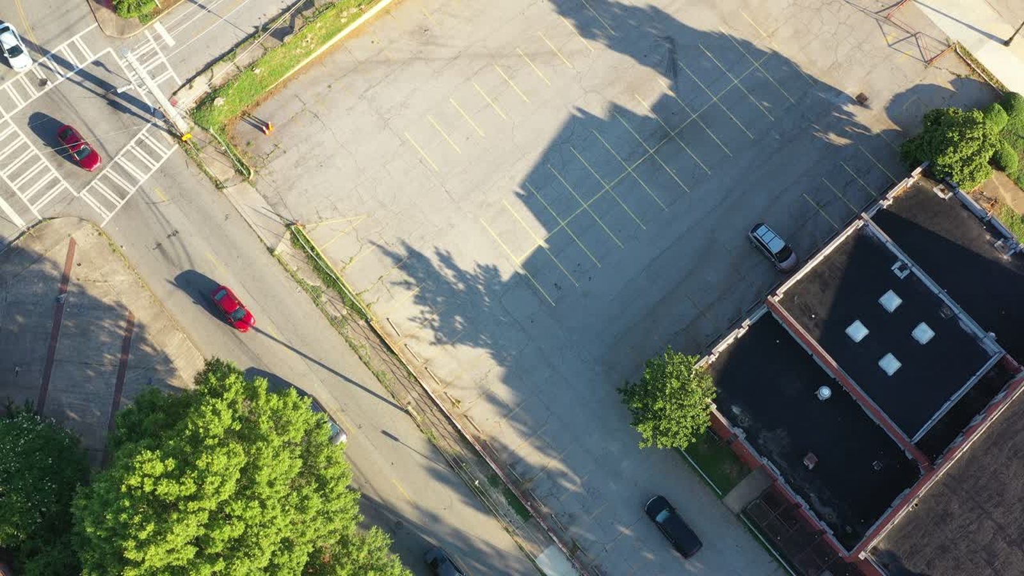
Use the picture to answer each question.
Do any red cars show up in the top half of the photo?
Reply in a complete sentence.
Yes, a red car can be seen in the top half of the photo.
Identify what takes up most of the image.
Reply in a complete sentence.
The largest share of the image is taken up by paved ground.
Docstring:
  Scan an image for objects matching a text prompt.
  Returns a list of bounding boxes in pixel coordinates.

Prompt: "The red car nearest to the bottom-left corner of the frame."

[208,281,255,333]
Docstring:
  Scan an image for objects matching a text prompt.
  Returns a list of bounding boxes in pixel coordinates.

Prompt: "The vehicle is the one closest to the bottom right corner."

[646,495,706,560]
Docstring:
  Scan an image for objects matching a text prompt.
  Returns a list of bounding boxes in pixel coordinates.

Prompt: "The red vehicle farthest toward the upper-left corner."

[53,121,99,169]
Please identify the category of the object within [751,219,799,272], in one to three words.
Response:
car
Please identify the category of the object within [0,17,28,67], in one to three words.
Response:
car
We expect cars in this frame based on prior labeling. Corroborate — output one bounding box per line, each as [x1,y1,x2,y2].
[0,17,28,67]
[208,281,255,333]
[751,219,799,272]
[53,121,99,169]
[646,495,706,560]
[296,389,347,437]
